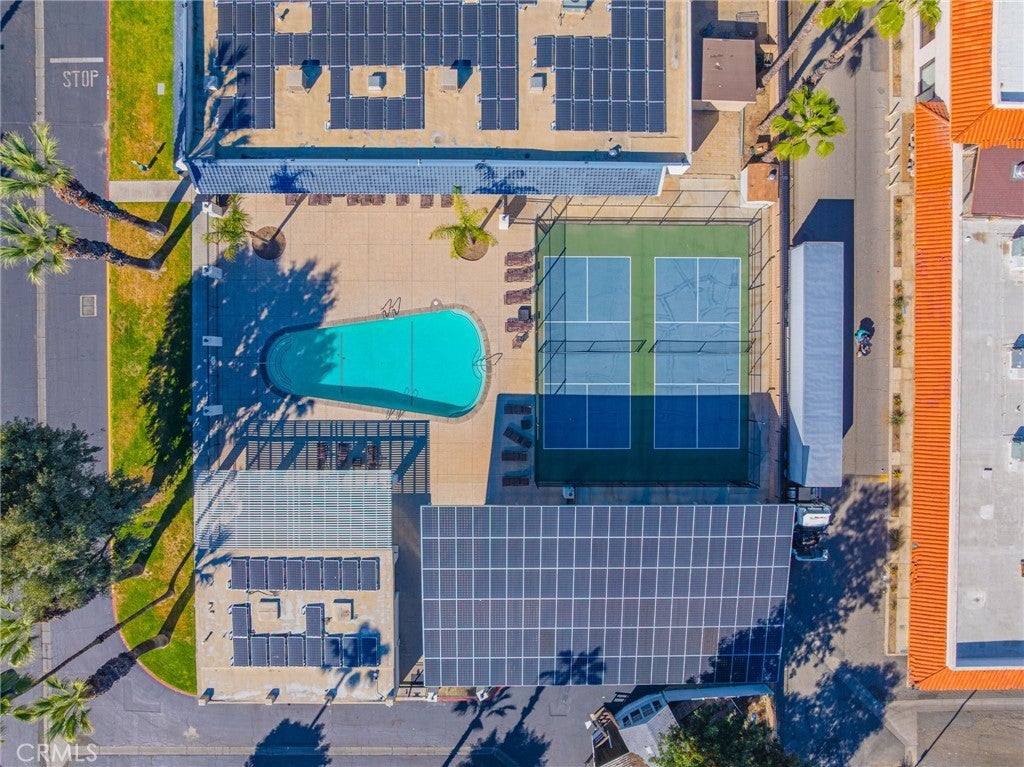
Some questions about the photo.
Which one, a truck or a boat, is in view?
truck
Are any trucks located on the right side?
Yes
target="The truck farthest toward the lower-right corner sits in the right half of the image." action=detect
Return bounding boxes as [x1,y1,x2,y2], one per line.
[783,483,838,561]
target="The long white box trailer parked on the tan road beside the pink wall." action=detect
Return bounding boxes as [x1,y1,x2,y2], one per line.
[790,241,844,488]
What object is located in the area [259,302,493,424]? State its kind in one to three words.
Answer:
swimming pool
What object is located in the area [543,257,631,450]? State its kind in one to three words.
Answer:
sports court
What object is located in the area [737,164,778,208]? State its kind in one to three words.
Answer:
shed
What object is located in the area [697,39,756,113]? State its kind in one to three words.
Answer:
shed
